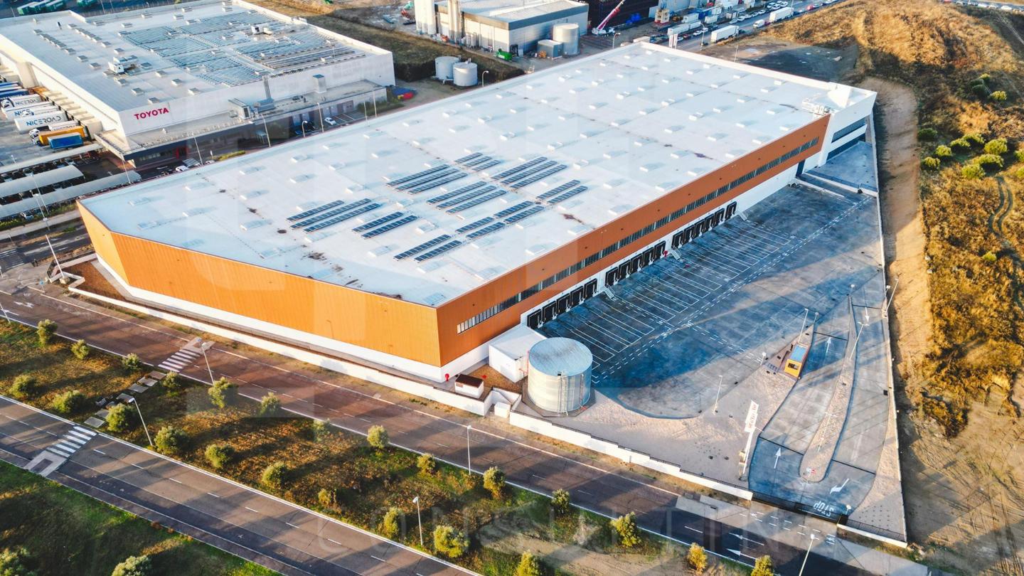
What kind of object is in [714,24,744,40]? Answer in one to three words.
vehicle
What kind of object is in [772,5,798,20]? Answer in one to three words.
vehicle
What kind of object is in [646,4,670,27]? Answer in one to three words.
building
